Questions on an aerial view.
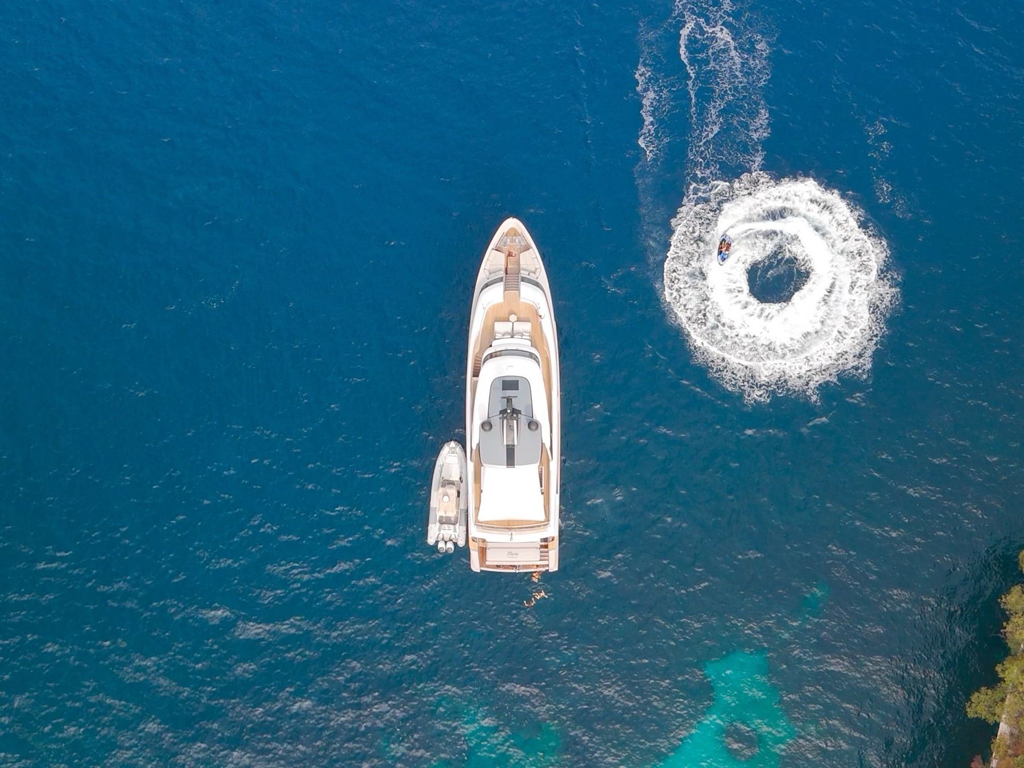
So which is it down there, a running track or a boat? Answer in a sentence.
Of the two, only a boat appears.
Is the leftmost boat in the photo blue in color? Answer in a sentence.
No, the color of the leftmost boat is white.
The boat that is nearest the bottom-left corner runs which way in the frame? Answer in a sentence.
The boat that is nearest the bottom-left corner is oriented up and down.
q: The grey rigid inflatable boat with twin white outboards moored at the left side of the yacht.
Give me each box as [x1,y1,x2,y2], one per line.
[428,441,468,552]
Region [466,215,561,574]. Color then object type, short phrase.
white boat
